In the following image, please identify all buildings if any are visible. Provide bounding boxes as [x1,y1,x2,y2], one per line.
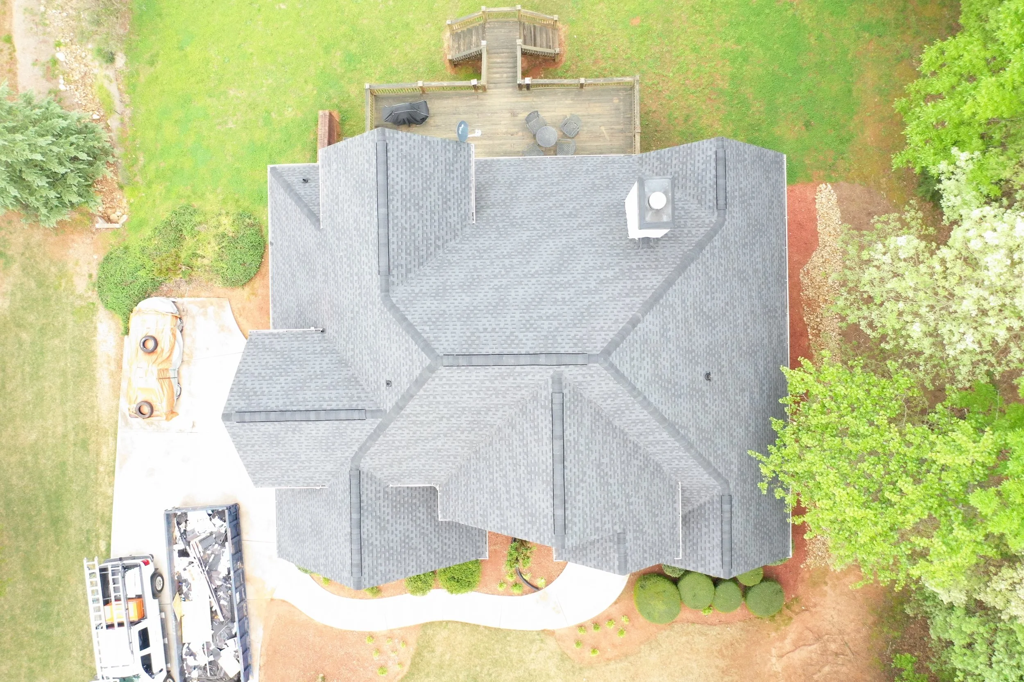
[222,127,793,591]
